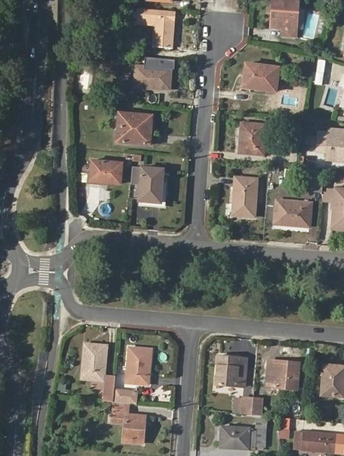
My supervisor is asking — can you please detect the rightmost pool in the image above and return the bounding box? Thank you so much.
[323,84,340,110]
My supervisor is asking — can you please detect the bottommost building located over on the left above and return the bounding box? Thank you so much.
[108,404,147,445]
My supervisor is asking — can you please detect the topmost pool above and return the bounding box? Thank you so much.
[304,10,319,40]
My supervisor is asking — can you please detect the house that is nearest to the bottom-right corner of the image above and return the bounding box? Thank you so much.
[292,430,344,456]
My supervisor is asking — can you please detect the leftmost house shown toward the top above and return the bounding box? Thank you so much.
[88,159,123,186]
